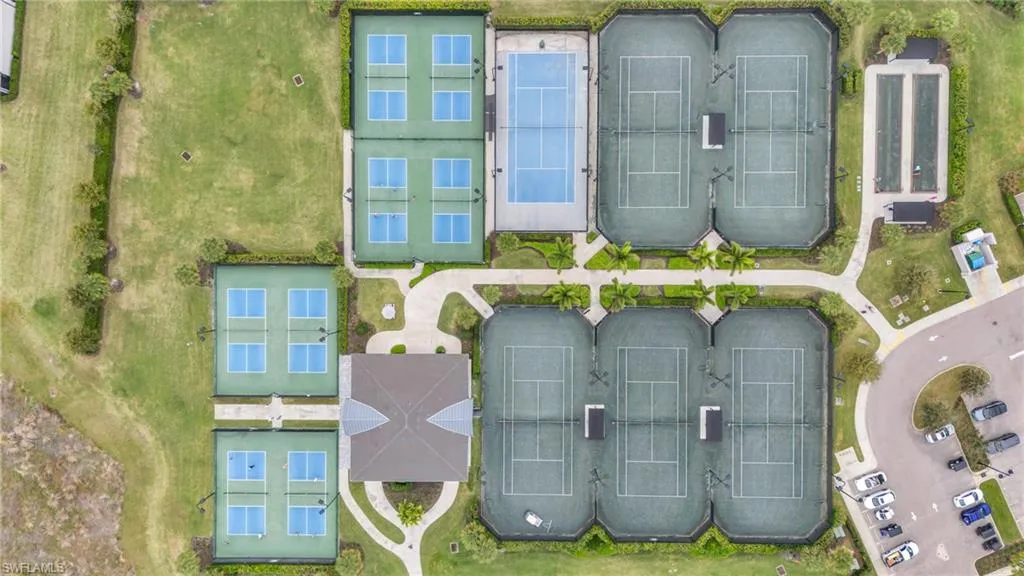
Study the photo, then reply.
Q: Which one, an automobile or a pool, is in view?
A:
automobile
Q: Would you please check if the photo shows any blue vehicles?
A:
Yes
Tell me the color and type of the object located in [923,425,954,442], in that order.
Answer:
white car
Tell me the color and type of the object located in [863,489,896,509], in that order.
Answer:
white car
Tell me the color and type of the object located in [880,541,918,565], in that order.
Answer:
white truck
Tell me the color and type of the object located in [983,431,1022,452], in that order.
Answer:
gray truck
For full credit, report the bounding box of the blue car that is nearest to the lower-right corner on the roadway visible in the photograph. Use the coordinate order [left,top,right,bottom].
[958,503,991,524]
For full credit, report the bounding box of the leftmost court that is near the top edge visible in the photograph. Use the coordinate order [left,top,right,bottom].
[354,15,419,138]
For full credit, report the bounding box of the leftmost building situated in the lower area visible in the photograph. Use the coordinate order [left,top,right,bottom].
[340,353,474,481]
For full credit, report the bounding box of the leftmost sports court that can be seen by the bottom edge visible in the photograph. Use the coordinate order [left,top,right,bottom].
[216,432,277,558]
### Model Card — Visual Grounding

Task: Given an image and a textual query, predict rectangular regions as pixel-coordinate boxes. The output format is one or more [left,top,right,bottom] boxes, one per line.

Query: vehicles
[878,522,902,538]
[951,487,983,507]
[855,471,887,490]
[923,425,954,442]
[974,522,996,537]
[945,456,968,470]
[981,536,1003,551]
[874,506,895,521]
[971,401,1008,420]
[958,503,991,524]
[863,489,896,509]
[880,541,918,565]
[983,431,1022,452]
[525,510,542,528]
